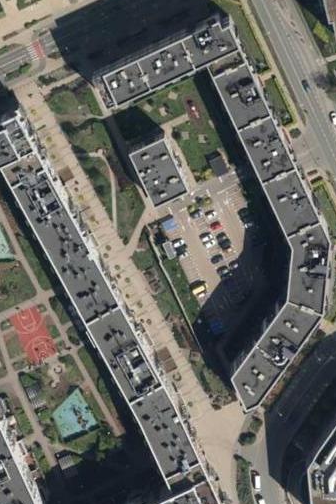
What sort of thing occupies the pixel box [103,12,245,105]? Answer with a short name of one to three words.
building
